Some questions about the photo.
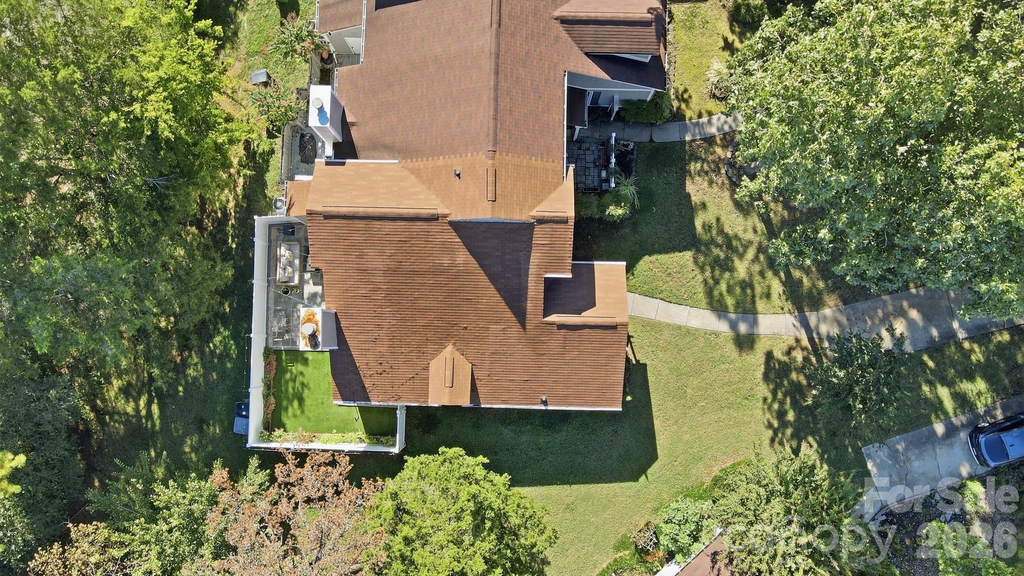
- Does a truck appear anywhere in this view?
No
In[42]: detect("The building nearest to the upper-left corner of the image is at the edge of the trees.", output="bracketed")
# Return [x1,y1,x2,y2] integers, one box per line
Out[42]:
[283,0,668,413]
